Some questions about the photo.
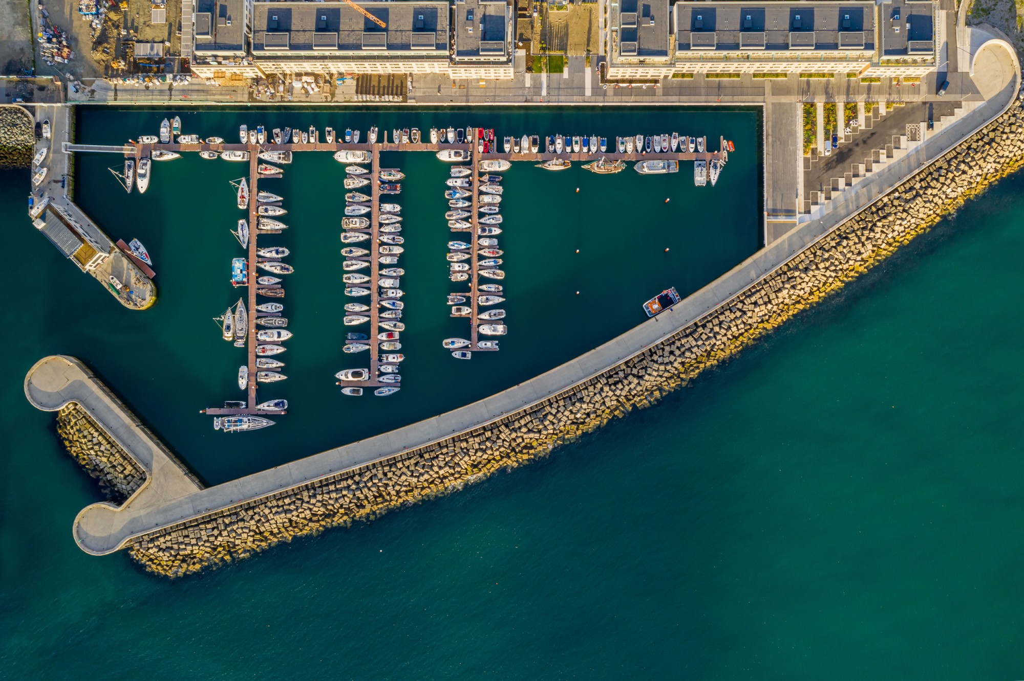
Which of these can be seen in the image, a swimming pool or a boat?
boat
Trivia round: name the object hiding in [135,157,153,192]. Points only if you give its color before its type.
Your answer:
white boat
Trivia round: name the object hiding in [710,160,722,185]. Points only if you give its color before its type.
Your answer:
white boat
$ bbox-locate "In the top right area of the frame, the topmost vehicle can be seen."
[936,80,949,97]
